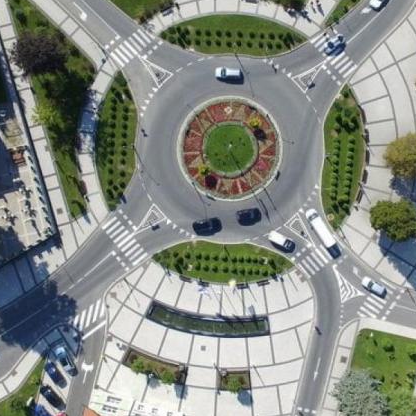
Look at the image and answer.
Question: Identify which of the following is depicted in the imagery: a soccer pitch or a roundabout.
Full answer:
The one in the frame is a roundabout.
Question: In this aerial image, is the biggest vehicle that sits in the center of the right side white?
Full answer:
Yes, the biggest vehicle that sits in the center of the right side is white.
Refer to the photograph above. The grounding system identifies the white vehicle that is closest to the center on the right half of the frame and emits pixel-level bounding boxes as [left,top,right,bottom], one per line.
[268,230,296,250]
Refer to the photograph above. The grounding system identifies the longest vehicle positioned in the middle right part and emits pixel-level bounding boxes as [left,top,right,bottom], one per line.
[303,208,338,249]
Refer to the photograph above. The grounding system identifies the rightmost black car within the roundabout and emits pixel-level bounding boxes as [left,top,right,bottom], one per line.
[236,208,263,223]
